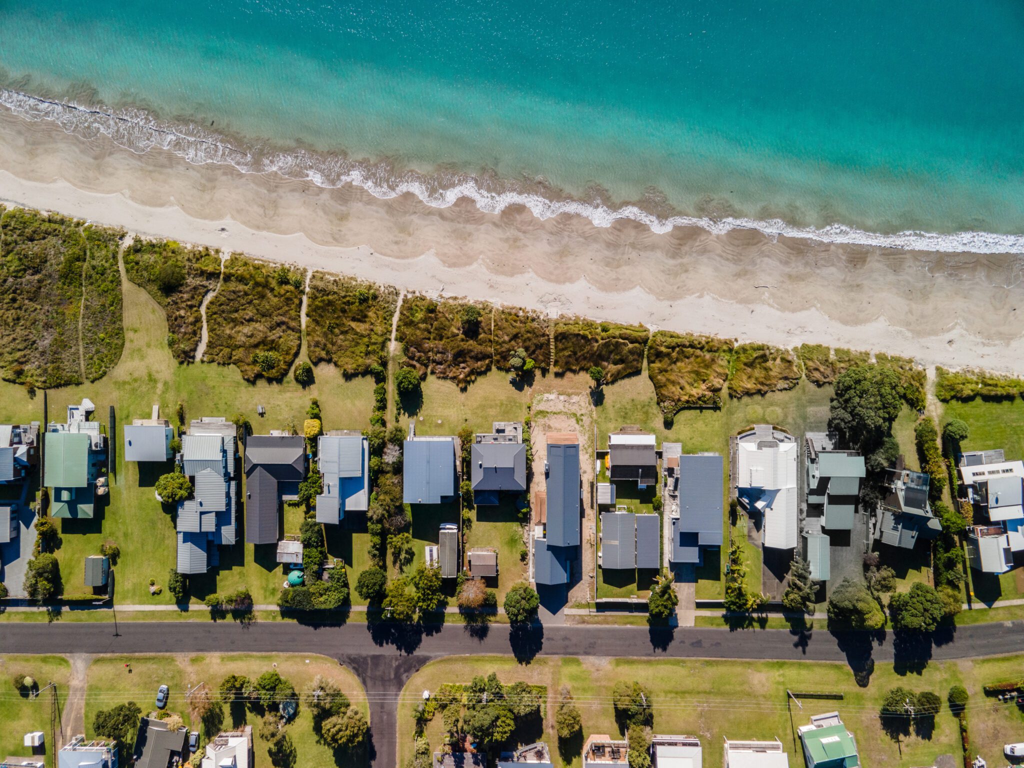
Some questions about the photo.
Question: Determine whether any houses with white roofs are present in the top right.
No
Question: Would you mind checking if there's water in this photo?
Yes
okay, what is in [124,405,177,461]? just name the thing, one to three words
house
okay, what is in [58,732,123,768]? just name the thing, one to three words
house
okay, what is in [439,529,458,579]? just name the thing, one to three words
building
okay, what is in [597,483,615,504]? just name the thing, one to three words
shed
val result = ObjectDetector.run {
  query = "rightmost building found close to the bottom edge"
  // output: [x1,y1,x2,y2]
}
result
[793,707,859,768]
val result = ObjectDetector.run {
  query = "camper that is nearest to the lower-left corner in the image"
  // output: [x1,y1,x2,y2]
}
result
[24,730,48,746]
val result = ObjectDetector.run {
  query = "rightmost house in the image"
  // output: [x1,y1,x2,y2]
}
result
[953,448,1024,573]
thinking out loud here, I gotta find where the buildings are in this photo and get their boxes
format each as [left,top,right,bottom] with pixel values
[0,425,40,481]
[534,433,583,586]
[0,758,52,768]
[650,729,703,768]
[139,711,194,768]
[953,448,1024,573]
[176,417,240,575]
[581,731,630,768]
[609,426,659,490]
[597,513,660,570]
[793,707,859,768]
[315,430,370,524]
[44,396,109,518]
[803,432,866,535]
[58,732,123,768]
[497,740,554,768]
[403,421,461,504]
[597,483,615,504]
[202,721,256,768]
[439,529,458,579]
[245,430,305,546]
[662,442,723,568]
[722,735,788,768]
[0,506,22,543]
[124,405,177,461]
[736,424,798,550]
[85,556,109,586]
[471,422,526,505]
[471,547,498,577]
[872,454,942,552]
